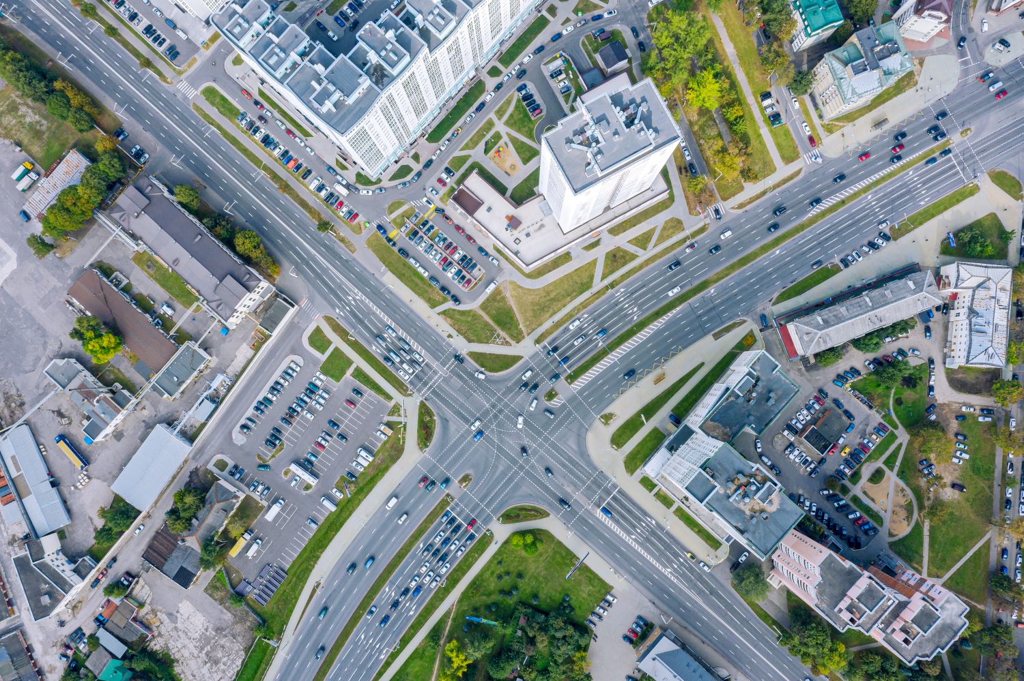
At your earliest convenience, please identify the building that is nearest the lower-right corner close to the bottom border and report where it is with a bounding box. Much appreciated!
[764,529,971,667]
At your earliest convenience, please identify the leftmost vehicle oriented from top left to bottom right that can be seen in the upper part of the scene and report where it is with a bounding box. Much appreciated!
[17,209,30,223]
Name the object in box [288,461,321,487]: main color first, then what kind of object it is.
white bus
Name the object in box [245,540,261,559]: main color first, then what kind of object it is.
white vehicle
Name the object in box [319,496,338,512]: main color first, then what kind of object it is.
white vehicle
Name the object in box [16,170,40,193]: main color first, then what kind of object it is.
white truck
